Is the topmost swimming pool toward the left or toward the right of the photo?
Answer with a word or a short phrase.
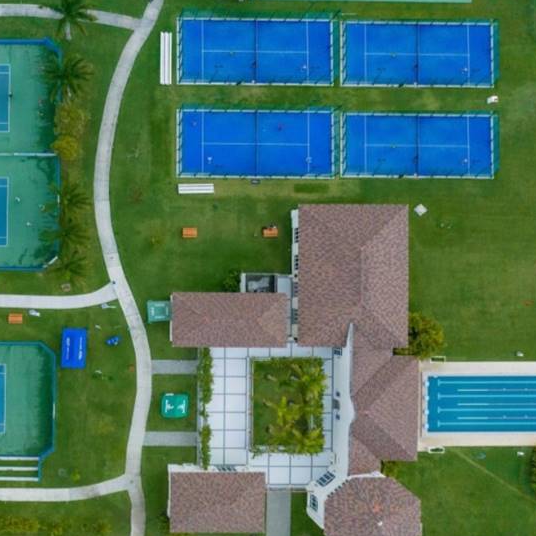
right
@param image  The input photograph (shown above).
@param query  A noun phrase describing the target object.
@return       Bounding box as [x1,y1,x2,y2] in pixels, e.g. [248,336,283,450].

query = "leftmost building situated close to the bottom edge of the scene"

[163,464,266,534]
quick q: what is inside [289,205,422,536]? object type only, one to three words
building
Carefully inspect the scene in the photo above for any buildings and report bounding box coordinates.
[289,205,422,536]
[163,464,266,534]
